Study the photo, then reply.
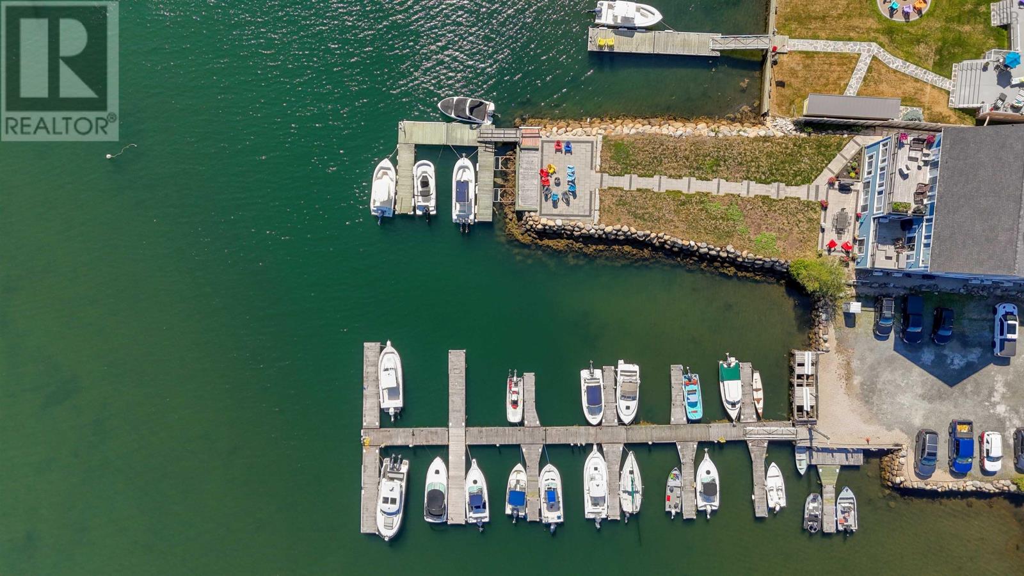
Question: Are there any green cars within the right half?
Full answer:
No, no green car is visible within the right half.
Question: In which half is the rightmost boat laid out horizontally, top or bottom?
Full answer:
Seen from above, the rightmost boat laid out horizontally lies in the top half of the view.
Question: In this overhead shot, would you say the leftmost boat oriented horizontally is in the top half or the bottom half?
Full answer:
The leftmost boat oriented horizontally is in the top half of the image.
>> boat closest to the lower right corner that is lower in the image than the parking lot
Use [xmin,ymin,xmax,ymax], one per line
[837,487,857,537]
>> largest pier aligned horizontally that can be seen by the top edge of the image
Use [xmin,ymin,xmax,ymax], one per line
[588,26,722,57]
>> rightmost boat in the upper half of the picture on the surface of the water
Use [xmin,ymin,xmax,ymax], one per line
[581,0,675,31]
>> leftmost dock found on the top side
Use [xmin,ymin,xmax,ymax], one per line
[395,144,416,215]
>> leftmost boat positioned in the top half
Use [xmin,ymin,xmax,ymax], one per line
[370,148,399,228]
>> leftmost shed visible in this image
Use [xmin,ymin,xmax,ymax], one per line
[802,93,900,121]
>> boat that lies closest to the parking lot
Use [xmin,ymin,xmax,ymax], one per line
[795,447,808,475]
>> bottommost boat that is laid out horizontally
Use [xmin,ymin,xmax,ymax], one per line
[438,98,505,125]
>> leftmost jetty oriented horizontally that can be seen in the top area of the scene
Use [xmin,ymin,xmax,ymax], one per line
[398,121,495,146]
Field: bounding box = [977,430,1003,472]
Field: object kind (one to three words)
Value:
car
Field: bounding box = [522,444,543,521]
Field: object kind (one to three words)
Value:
pier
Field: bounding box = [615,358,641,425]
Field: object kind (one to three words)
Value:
boat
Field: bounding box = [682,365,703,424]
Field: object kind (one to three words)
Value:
boat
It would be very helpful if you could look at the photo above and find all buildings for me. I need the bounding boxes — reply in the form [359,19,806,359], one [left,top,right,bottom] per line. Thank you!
[802,93,900,121]
[854,123,1024,280]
